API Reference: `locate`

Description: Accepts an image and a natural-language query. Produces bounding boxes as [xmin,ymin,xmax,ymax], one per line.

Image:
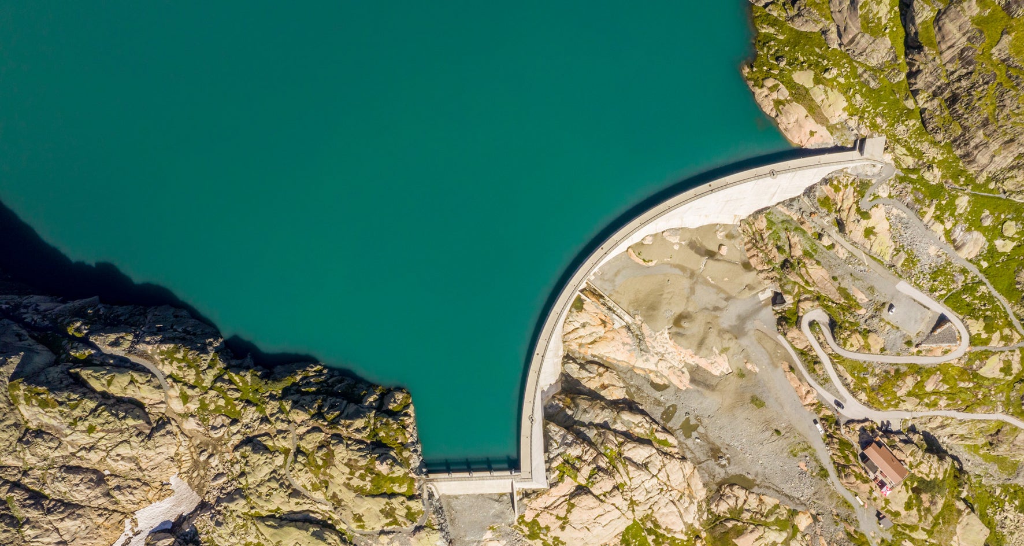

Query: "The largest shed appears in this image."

[864,437,909,491]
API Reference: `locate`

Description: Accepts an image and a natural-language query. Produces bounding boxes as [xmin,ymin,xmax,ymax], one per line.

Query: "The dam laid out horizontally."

[427,469,521,495]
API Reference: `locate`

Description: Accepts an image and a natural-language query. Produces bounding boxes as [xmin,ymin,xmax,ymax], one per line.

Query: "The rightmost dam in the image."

[514,150,867,487]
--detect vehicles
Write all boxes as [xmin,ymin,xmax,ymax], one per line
[834,400,845,410]
[880,421,887,432]
[886,421,893,432]
[815,423,826,434]
[889,305,897,315]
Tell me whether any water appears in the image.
Yes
